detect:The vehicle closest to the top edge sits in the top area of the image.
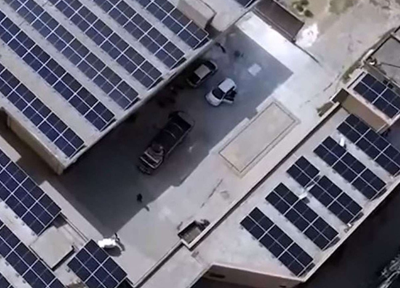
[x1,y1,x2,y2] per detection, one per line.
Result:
[193,62,234,94]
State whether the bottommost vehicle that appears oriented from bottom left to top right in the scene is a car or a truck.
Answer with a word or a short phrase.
truck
